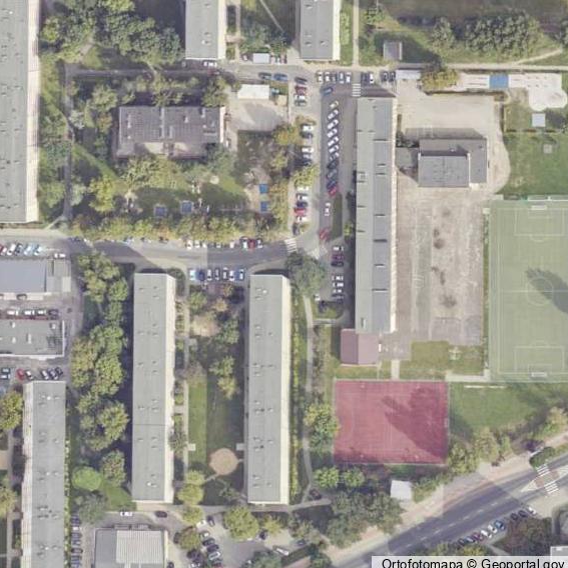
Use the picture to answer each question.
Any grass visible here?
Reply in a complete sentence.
Yes, there is grass in the image.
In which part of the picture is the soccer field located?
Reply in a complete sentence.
The soccer field sits in the right section of the image.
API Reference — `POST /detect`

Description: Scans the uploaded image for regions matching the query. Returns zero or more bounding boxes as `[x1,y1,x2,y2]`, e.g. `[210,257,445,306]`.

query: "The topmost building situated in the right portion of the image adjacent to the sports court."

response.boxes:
[356,96,395,333]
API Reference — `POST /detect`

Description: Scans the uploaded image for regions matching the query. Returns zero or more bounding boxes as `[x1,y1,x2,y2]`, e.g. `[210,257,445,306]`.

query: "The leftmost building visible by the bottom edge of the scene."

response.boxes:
[22,381,66,568]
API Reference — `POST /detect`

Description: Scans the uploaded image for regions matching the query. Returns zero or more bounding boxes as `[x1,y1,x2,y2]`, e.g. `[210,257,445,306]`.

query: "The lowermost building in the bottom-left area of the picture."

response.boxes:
[95,523,167,568]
